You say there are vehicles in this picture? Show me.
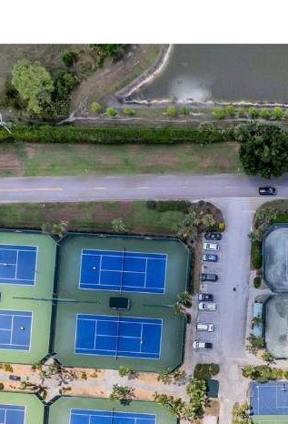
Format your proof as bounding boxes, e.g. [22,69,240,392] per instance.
[193,341,212,349]
[200,272,217,281]
[197,323,213,331]
[202,253,218,261]
[204,231,221,240]
[199,293,213,300]
[259,185,276,194]
[8,375,18,380]
[203,242,218,250]
[198,302,216,309]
